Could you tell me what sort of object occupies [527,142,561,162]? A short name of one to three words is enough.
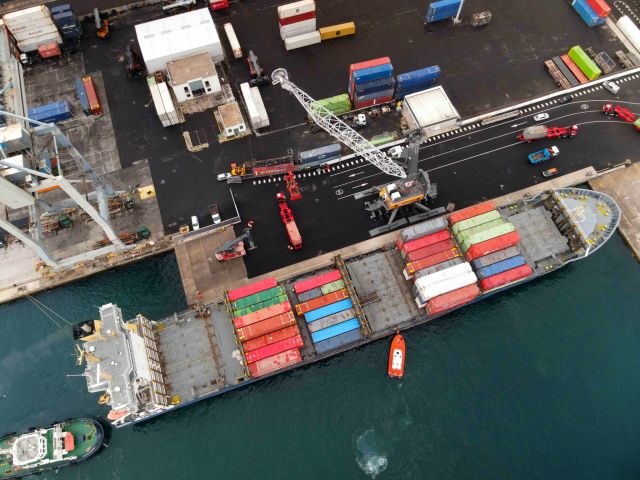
vehicle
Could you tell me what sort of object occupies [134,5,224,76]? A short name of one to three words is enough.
building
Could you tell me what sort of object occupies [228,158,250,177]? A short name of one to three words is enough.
work vehicle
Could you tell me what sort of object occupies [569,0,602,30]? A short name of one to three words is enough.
shipping container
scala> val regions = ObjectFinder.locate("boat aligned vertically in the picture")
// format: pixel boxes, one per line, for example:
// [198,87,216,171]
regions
[390,333,406,381]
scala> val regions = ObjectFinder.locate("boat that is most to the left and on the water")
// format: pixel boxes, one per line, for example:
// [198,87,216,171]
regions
[0,412,106,480]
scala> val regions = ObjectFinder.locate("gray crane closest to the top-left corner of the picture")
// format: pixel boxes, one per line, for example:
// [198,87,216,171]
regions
[0,106,137,274]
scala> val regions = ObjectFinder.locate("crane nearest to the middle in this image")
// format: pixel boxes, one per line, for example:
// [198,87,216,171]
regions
[268,63,446,238]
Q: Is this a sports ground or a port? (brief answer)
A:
port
